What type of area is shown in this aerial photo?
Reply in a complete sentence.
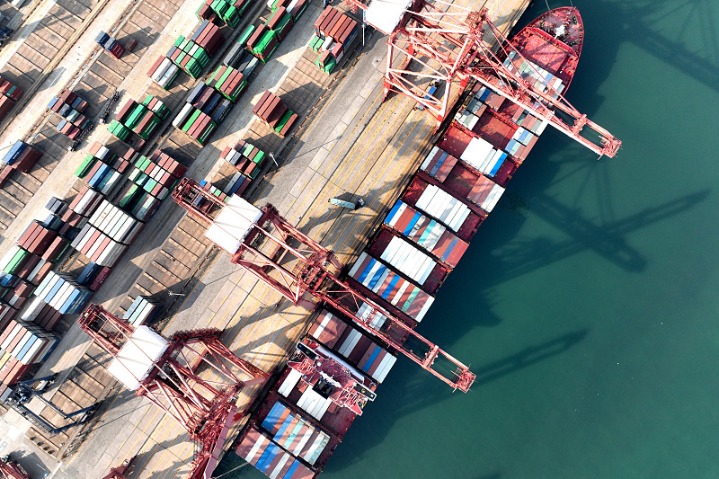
It's a port.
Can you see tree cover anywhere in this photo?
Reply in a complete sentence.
No, there is no tree cover in the image.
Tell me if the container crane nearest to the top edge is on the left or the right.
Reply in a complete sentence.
The container crane nearest to the top edge is on the right side of the image.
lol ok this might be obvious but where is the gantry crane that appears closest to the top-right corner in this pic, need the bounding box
[337,0,628,161]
